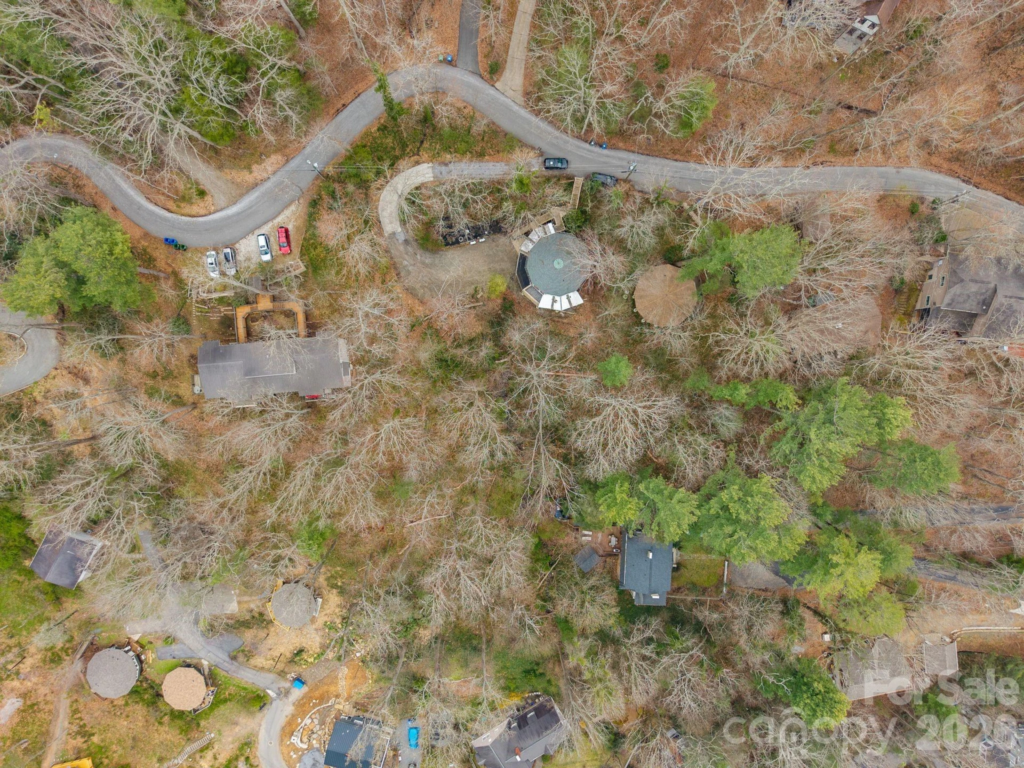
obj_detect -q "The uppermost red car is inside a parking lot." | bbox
[275,224,290,254]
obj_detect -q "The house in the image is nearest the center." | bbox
[516,222,591,314]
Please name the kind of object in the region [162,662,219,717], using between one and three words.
house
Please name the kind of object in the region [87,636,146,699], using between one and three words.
house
